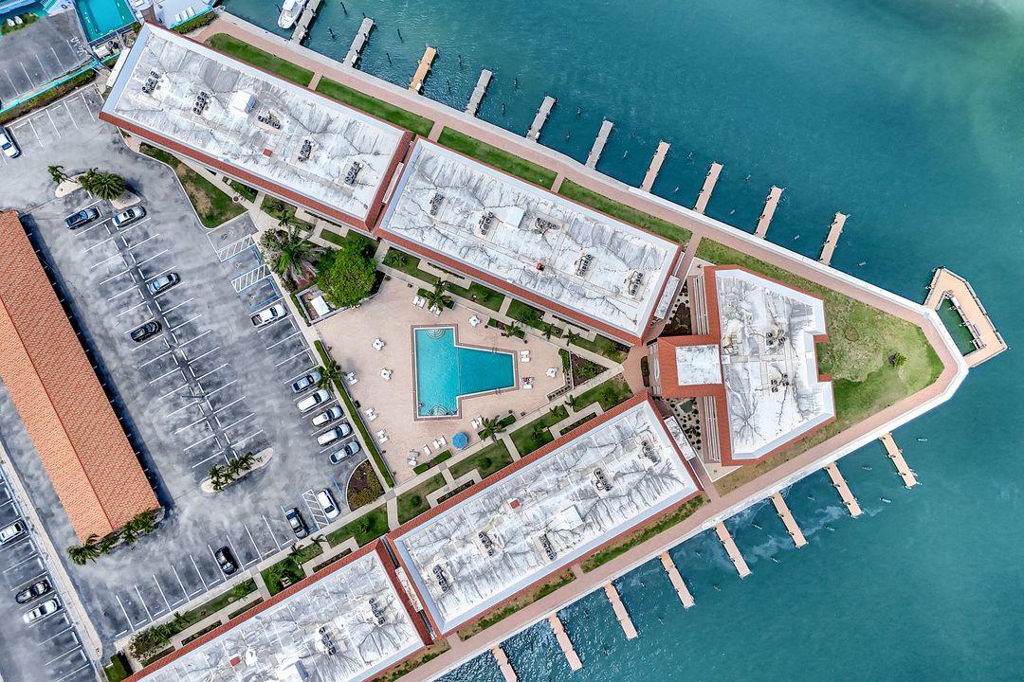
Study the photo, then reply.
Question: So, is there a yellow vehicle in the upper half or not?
No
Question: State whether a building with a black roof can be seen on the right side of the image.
No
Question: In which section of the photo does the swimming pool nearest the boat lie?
top left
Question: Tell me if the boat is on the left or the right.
left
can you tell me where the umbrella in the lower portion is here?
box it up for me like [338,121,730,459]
[451,432,469,450]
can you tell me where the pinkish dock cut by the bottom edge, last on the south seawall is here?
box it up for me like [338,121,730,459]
[492,643,521,682]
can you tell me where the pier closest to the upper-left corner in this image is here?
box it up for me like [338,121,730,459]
[292,0,321,43]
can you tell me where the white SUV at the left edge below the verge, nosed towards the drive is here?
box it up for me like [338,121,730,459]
[0,125,20,159]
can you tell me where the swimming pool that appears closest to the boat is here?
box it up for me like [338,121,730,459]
[75,0,137,40]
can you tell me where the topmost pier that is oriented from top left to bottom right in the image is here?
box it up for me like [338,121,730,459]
[917,267,1011,367]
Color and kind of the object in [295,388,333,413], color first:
white car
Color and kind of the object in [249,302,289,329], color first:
white vehicle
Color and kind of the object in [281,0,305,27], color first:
white boat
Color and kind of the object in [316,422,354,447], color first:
white car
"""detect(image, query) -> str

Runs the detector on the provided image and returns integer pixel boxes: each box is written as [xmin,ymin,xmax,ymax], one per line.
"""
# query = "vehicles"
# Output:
[112,205,148,228]
[62,205,102,231]
[16,580,53,604]
[314,486,341,520]
[0,125,20,159]
[285,506,310,539]
[310,404,345,428]
[129,320,164,343]
[147,272,181,294]
[295,388,333,413]
[249,302,289,329]
[214,543,240,578]
[328,441,362,464]
[290,371,323,393]
[24,597,61,622]
[316,422,354,447]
